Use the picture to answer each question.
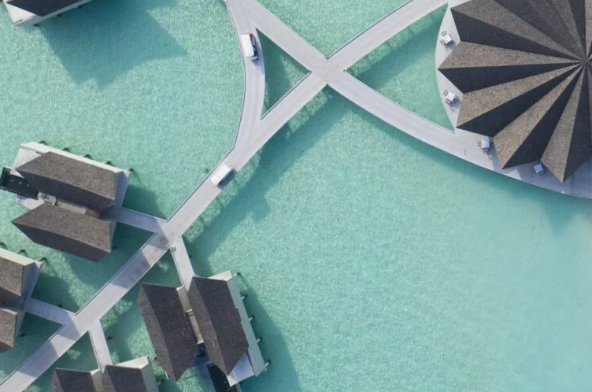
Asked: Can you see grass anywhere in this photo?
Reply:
No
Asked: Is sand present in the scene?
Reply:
Yes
